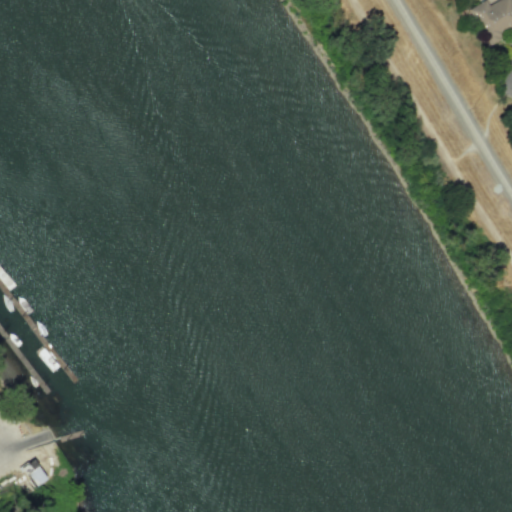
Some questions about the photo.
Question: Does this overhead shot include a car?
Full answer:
No, there isn't any car down there.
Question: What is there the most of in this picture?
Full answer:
The largest share of the image is taken up by water.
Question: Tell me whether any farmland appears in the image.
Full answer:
No, there is no farmland in the image.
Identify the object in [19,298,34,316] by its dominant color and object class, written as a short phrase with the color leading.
white boat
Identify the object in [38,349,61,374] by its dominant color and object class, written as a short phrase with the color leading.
white boat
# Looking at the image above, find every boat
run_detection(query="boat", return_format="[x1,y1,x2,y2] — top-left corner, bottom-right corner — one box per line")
[0,264,16,290]
[19,298,34,316]
[30,376,40,389]
[38,349,61,374]
[4,295,15,314]
[38,321,49,339]
[10,332,24,349]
